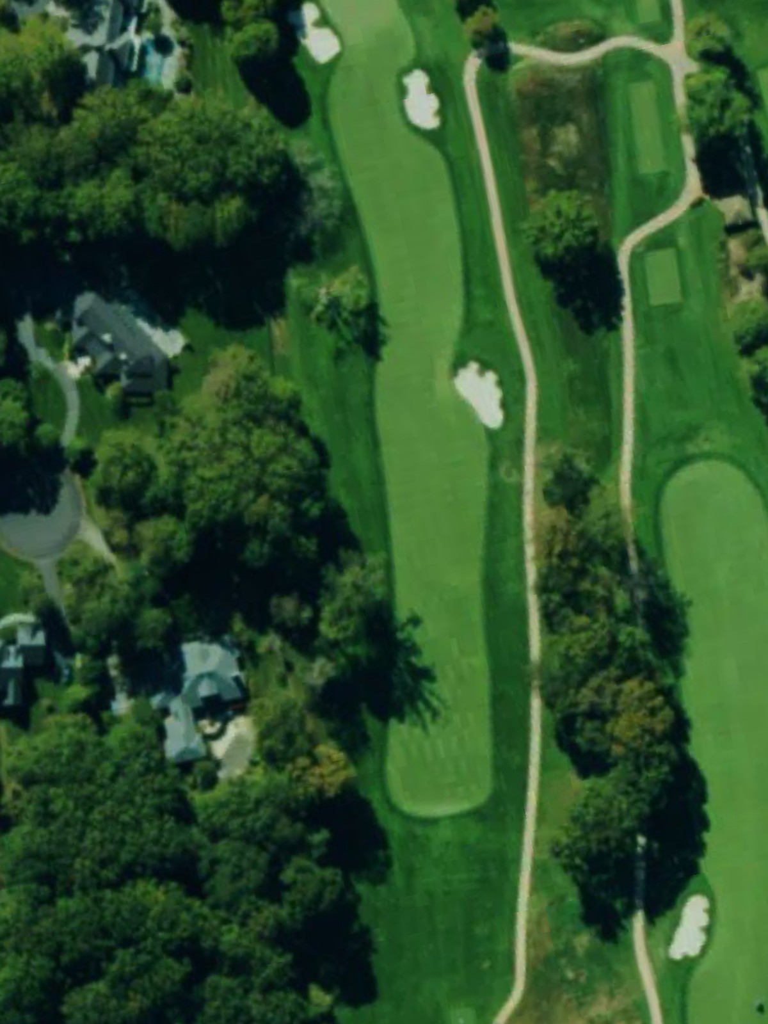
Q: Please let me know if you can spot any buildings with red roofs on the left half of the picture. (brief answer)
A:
No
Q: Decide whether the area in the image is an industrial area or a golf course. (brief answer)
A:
golf course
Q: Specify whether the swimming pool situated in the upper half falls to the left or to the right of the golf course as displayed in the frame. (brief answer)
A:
to the left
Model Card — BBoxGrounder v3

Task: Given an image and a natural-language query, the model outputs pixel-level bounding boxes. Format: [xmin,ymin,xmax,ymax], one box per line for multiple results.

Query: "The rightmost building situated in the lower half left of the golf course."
[146,644,241,761]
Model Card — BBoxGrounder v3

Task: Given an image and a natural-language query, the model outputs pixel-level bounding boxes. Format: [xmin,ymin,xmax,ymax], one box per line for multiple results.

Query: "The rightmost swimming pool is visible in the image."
[142,35,164,81]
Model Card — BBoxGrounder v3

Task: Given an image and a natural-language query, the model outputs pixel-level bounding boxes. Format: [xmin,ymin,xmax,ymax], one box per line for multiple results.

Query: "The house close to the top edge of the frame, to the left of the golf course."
[82,0,142,81]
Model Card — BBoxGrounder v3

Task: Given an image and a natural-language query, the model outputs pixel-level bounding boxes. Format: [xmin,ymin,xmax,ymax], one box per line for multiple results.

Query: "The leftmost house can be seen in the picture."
[0,628,44,709]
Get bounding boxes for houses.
[82,0,142,81]
[63,288,167,393]
[146,644,241,761]
[0,628,44,709]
